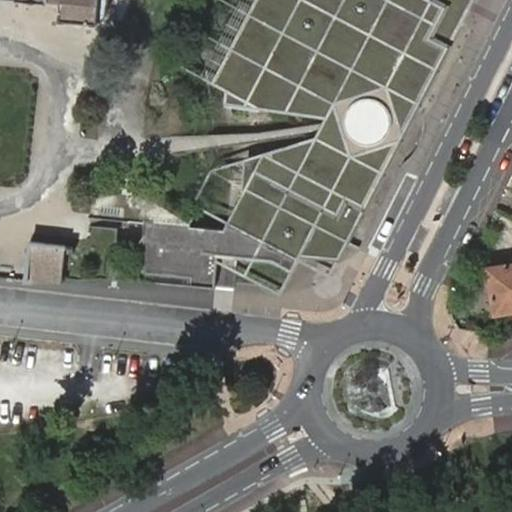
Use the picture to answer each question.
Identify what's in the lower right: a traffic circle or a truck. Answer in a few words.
traffic circle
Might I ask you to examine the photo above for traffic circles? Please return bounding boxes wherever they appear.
[286,302,462,475]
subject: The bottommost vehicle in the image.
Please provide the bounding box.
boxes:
[260,456,280,472]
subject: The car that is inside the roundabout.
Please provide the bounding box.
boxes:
[298,375,316,398]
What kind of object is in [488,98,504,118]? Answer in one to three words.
car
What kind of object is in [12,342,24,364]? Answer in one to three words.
vehicle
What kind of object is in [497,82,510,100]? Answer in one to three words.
vehicle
